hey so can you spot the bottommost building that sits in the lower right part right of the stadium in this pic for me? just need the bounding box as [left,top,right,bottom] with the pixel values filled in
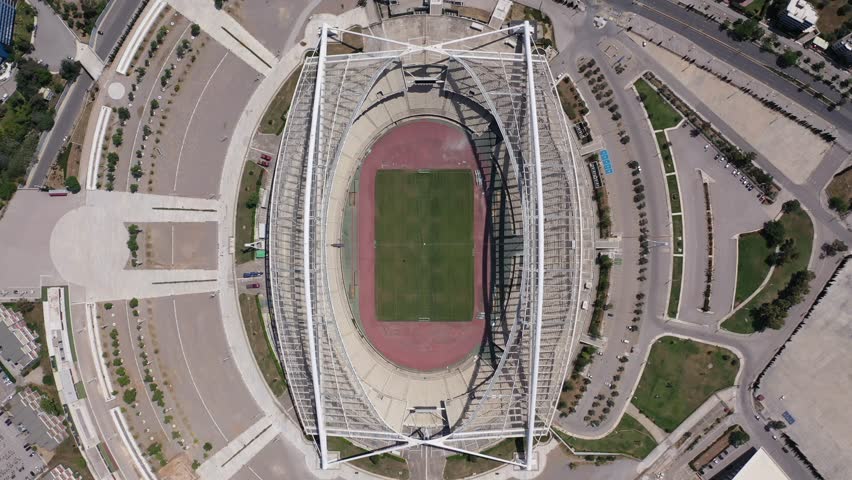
[724,444,795,480]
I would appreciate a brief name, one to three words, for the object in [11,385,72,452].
building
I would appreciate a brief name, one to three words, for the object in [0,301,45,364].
building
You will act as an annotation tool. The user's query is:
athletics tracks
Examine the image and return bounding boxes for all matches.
[358,121,490,372]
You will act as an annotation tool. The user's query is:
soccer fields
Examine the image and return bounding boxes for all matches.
[376,170,473,321]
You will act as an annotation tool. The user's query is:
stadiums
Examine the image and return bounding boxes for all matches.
[270,20,581,474]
